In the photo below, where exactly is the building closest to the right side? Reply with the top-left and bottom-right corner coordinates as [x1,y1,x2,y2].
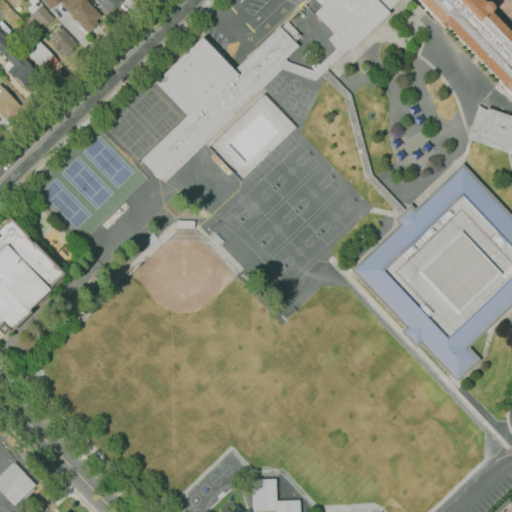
[472,100,512,153]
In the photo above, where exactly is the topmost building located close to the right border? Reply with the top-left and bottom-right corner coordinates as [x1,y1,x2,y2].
[422,0,512,90]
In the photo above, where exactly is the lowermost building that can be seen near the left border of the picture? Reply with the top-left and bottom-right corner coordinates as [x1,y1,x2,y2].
[0,462,36,507]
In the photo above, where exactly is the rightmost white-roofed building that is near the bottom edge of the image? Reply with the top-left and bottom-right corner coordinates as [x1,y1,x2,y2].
[252,479,301,512]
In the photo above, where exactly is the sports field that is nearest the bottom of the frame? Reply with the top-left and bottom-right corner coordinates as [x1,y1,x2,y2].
[33,272,485,512]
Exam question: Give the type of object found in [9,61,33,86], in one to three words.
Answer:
house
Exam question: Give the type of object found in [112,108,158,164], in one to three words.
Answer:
sports court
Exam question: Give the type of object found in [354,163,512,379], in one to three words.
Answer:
building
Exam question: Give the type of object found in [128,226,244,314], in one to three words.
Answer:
baseball field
